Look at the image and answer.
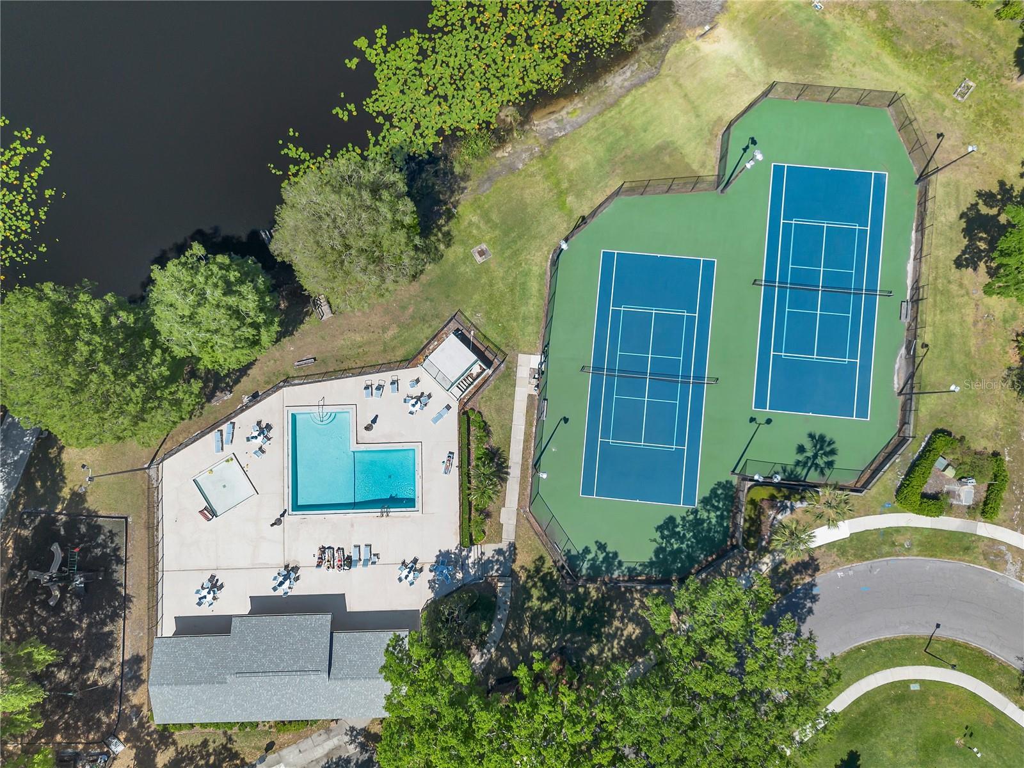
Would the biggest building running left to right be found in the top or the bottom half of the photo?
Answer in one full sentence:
The bottom half of the photo is where the biggest building running left to right is.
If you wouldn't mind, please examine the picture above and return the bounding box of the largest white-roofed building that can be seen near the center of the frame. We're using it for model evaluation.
[423,333,490,401]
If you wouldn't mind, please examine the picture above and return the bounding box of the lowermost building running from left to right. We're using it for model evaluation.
[148,612,413,722]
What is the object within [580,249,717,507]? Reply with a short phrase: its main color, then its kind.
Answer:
blue tennis court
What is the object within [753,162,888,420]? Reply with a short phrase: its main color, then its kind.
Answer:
blue tennis court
